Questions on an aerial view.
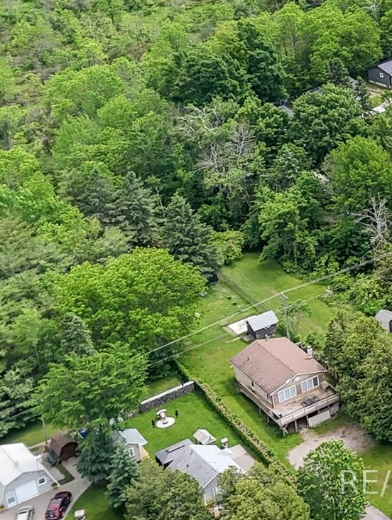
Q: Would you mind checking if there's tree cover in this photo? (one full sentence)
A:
Yes, the picture does contain tree cover.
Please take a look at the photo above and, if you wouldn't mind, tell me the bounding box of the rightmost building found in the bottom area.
[375,308,392,333]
